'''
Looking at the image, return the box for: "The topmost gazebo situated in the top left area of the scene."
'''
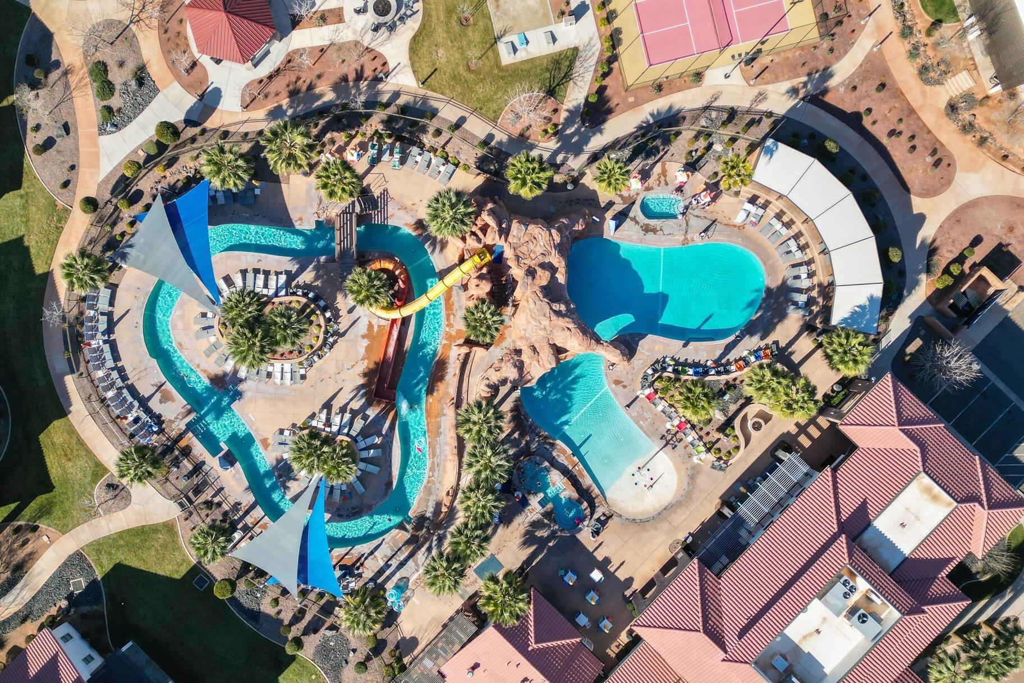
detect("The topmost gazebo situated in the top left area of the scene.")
[184,0,280,69]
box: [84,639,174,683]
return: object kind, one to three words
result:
building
